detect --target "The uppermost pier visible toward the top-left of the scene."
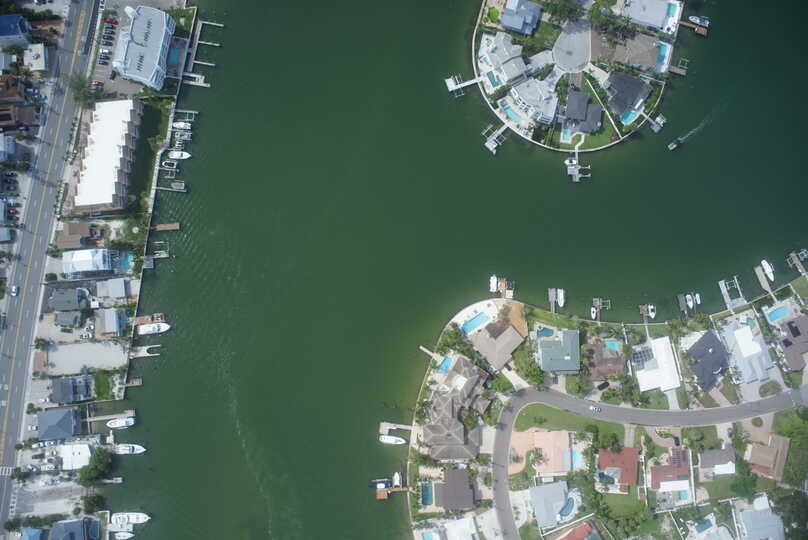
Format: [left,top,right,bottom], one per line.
[188,19,225,73]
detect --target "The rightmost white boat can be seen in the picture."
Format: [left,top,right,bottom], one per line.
[761,259,774,281]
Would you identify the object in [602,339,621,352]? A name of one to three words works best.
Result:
swimming pool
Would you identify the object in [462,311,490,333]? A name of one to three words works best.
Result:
swimming pool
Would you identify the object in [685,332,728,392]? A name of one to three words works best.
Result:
house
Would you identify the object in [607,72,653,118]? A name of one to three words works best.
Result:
house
